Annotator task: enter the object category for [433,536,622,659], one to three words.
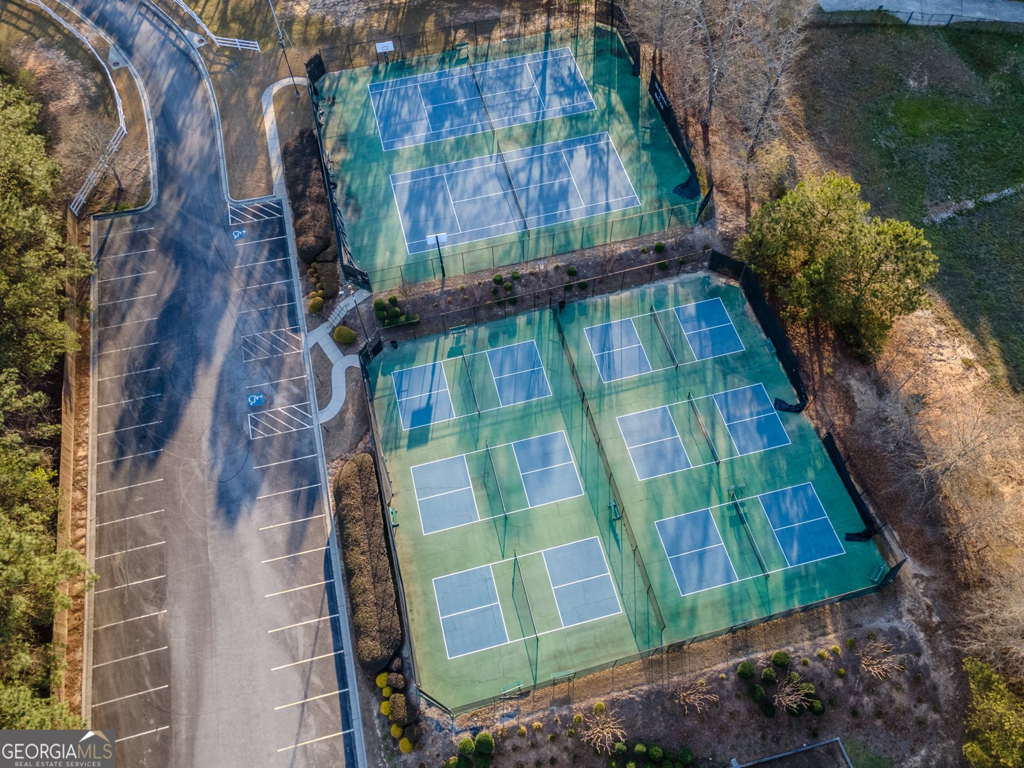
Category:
sports court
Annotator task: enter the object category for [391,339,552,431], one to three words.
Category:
sports court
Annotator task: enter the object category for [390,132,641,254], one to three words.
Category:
tennis court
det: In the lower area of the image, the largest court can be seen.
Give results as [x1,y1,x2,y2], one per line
[369,270,888,716]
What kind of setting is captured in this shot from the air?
sports ground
